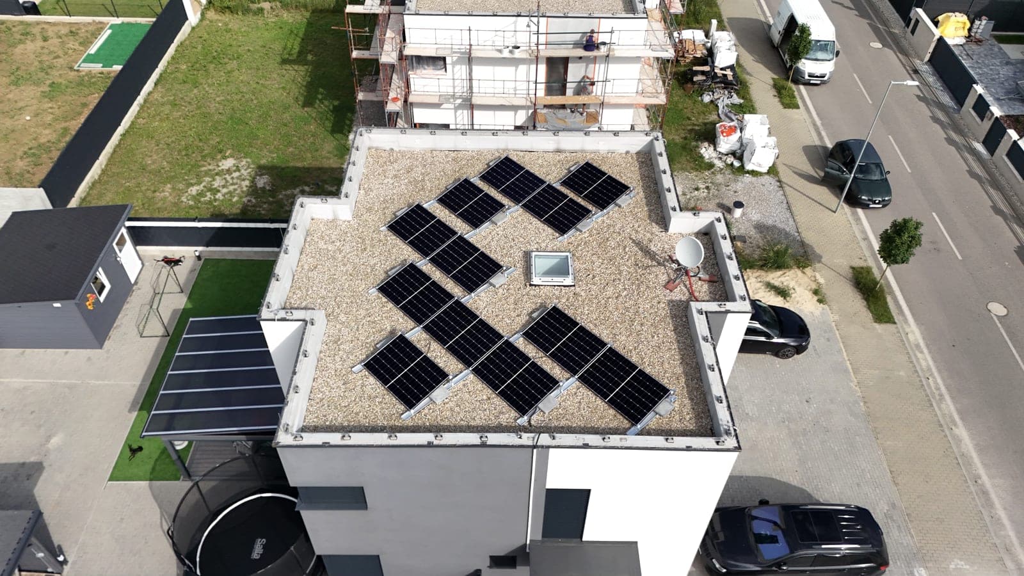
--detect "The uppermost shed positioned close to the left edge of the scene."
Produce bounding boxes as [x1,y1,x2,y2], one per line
[0,204,143,349]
